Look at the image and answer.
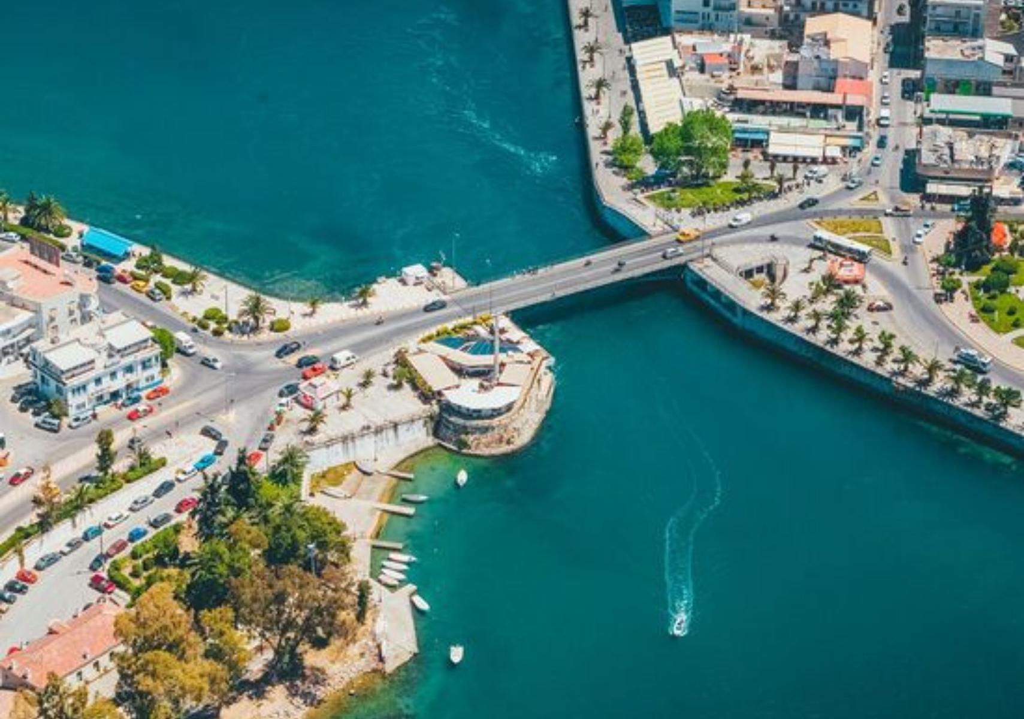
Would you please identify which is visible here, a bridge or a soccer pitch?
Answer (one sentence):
The image shows a bridge.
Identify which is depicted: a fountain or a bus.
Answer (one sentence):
Visible in the photo is a bus.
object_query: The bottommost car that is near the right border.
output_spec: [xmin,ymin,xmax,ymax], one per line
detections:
[957,348,989,370]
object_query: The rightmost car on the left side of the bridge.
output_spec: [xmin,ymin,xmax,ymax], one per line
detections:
[423,301,447,313]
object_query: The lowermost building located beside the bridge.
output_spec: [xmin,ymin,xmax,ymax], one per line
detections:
[407,316,545,420]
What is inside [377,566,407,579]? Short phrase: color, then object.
white boat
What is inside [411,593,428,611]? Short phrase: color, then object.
white boat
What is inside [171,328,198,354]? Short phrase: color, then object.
white truck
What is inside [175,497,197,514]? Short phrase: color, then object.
red car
